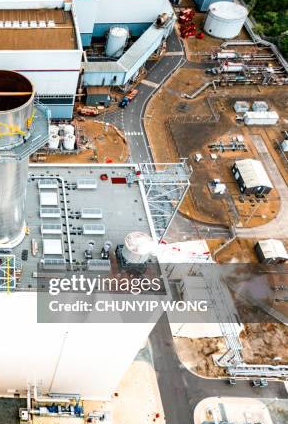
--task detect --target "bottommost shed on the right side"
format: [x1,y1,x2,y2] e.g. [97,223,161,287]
[252,238,288,267]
